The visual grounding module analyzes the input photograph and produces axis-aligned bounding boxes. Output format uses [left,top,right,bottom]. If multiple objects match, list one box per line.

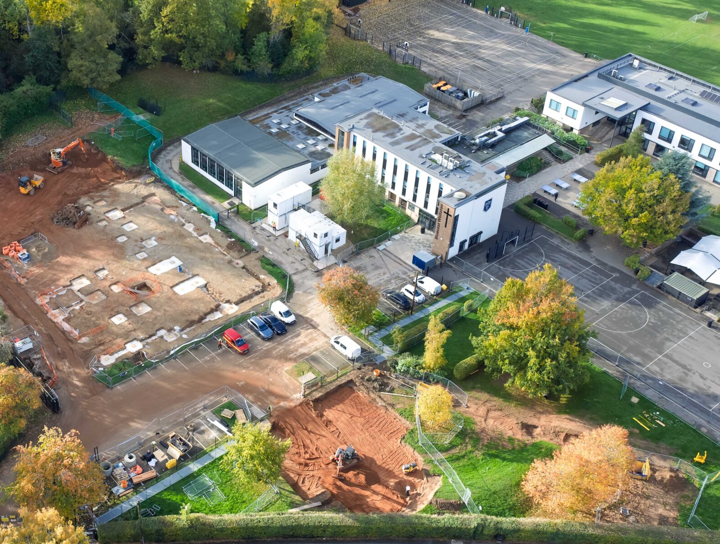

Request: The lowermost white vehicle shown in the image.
[332,337,365,363]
